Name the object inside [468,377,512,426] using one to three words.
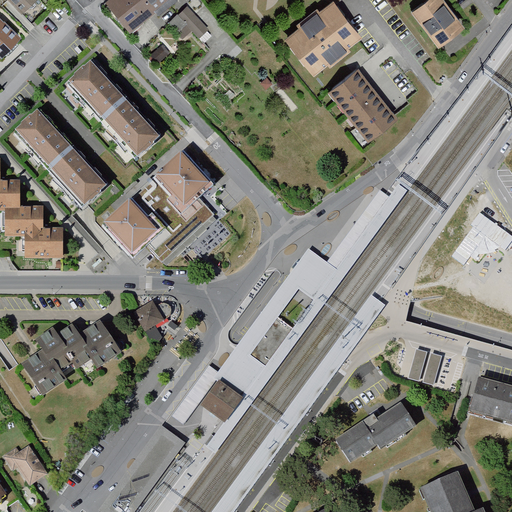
building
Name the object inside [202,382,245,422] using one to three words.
building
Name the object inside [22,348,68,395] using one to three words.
house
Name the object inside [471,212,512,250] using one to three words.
shed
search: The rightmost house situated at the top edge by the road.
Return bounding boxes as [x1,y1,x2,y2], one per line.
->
[412,0,464,48]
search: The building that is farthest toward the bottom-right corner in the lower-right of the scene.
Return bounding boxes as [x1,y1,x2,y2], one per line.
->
[418,470,487,512]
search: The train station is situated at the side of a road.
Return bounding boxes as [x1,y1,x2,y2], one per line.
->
[155,25,512,512]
